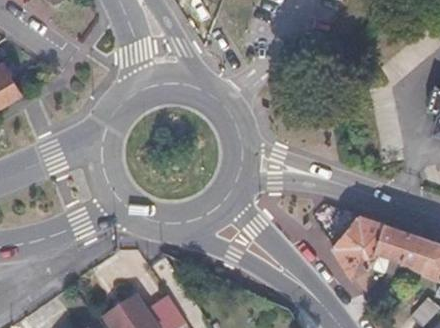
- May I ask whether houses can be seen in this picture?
Yes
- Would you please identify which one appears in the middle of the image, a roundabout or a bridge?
roundabout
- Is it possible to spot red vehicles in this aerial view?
Yes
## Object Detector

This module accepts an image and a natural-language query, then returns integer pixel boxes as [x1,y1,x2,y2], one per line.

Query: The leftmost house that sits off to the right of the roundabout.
[334,216,384,288]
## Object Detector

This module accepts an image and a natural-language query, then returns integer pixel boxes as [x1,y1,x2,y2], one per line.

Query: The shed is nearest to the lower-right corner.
[412,298,440,328]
